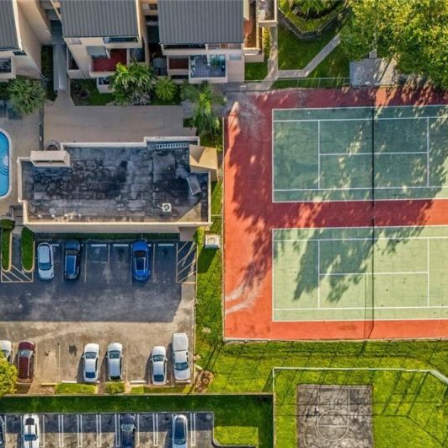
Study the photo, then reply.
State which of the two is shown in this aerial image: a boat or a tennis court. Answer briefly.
tennis court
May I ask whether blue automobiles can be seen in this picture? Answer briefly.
Yes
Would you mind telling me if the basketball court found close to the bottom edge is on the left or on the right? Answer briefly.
right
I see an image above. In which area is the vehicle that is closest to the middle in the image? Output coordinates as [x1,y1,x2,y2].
[131,241,150,284]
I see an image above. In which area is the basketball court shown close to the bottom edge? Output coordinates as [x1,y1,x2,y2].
[297,386,373,448]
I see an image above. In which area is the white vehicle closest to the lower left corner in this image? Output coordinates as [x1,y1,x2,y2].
[21,413,40,448]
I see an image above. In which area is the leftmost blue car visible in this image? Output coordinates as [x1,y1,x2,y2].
[35,241,55,280]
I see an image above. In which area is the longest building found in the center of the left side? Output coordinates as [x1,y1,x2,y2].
[17,136,217,241]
